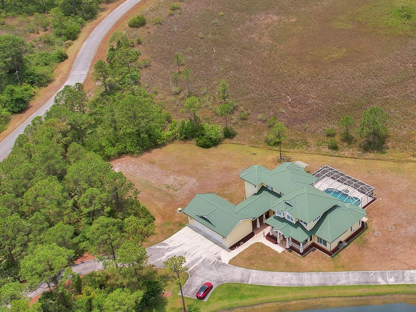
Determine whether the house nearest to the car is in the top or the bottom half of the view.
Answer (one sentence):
The house nearest to the car sits in the bottom half of the picture.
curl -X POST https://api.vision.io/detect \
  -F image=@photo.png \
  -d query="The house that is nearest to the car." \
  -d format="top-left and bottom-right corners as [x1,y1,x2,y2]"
[184,160,370,252]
